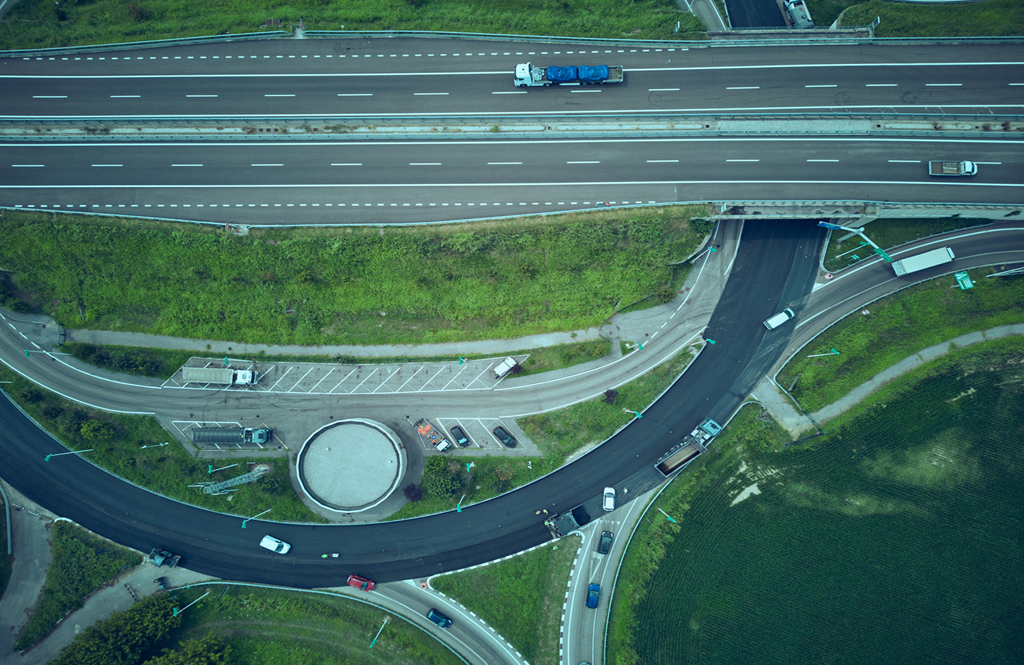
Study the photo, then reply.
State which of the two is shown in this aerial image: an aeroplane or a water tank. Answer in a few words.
water tank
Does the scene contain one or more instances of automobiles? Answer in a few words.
Yes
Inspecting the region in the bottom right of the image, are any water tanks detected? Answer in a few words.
No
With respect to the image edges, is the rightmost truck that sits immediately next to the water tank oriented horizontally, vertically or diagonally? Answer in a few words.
diagonally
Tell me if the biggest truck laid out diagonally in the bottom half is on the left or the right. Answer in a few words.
right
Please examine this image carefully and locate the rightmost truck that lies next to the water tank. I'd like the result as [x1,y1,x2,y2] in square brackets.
[413,417,451,455]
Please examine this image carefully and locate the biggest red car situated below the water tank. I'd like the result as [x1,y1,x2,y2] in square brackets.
[346,573,376,592]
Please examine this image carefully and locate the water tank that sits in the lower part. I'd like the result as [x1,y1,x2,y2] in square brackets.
[296,419,406,513]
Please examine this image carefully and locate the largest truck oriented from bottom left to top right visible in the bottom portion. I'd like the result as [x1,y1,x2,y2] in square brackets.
[655,417,724,480]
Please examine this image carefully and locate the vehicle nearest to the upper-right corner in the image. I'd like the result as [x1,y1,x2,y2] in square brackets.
[929,161,977,178]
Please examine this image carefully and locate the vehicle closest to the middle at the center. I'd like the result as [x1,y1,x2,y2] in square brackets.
[493,354,519,381]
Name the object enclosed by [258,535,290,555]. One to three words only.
vehicle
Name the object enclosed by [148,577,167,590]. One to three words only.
vehicle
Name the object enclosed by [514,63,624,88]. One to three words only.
truck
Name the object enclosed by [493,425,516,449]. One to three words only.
car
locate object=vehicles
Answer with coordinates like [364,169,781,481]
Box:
[177,368,262,389]
[187,427,274,446]
[493,354,519,381]
[596,200,609,208]
[655,417,724,480]
[258,535,290,555]
[148,577,167,590]
[146,548,183,571]
[346,573,376,592]
[586,582,601,609]
[451,426,469,449]
[763,307,795,331]
[929,161,977,178]
[413,417,451,455]
[425,607,453,629]
[514,63,624,88]
[597,530,612,555]
[602,486,616,511]
[493,425,516,449]
[892,244,960,277]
